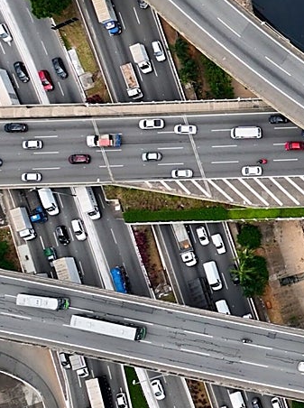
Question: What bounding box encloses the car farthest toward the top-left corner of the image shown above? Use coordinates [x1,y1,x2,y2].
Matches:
[0,23,13,44]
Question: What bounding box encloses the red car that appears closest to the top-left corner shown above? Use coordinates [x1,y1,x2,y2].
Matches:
[38,69,54,90]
